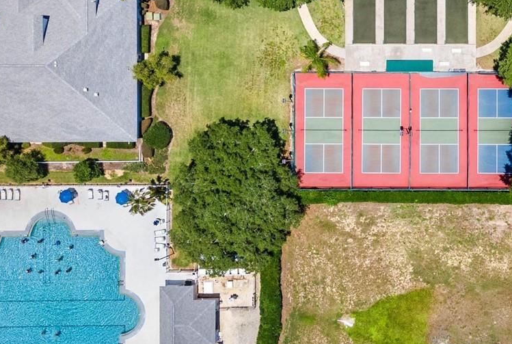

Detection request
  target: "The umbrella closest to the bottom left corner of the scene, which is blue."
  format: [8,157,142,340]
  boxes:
[62,189,76,202]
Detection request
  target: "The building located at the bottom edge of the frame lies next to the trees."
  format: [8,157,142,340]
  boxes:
[159,284,220,344]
